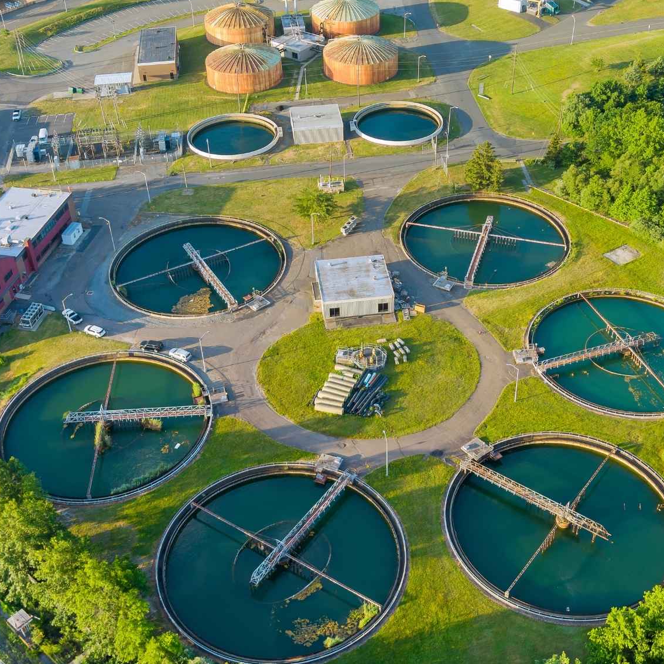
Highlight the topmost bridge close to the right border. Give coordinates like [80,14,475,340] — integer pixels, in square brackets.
[528,331,657,380]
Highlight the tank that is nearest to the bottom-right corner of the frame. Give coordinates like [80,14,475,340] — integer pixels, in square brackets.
[443,428,664,627]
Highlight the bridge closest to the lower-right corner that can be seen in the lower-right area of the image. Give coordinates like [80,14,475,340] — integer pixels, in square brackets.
[458,454,605,541]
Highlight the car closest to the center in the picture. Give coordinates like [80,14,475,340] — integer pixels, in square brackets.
[167,345,192,360]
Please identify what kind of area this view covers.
industrial area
